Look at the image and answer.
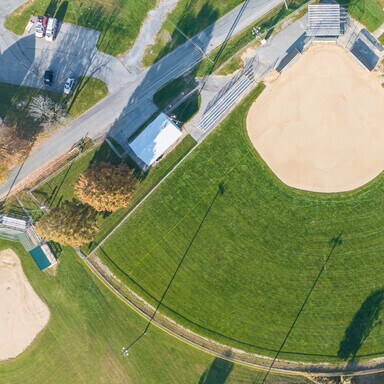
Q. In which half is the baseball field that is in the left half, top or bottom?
bottom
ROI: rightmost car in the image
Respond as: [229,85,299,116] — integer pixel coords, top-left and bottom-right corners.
[62,76,75,95]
